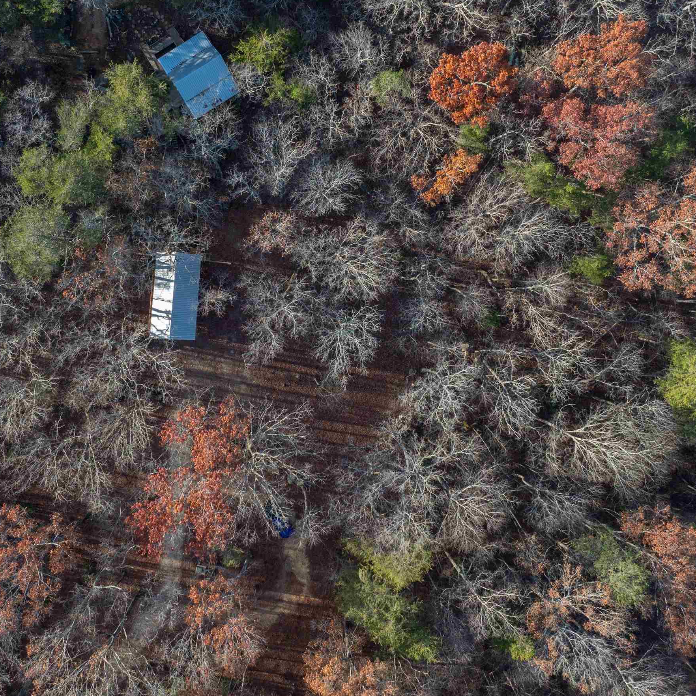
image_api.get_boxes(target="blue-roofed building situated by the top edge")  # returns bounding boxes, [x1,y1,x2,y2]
[140,21,239,120]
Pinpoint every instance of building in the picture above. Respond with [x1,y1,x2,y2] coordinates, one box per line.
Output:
[140,21,239,120]
[149,251,202,340]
